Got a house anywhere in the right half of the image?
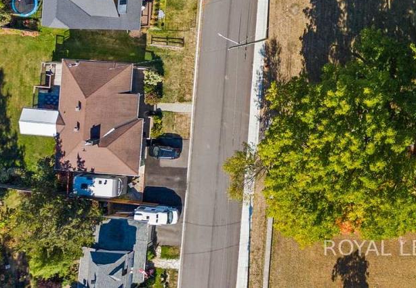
No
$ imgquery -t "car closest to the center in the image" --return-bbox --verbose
[150,144,184,160]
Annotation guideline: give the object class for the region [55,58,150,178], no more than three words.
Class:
house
